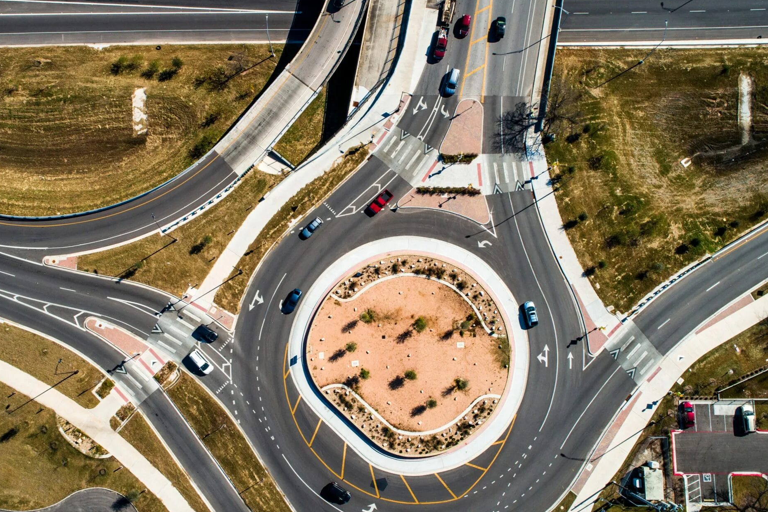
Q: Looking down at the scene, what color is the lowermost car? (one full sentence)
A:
The color of the lowermost car is black.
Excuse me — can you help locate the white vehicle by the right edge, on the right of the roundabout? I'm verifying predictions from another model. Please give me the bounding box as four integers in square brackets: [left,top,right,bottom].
[739,404,758,433]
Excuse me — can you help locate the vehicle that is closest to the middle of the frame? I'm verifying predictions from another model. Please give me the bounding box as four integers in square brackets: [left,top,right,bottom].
[370,189,394,214]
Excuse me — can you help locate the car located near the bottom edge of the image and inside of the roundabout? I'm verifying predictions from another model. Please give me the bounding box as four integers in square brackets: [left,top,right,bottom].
[325,484,351,504]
